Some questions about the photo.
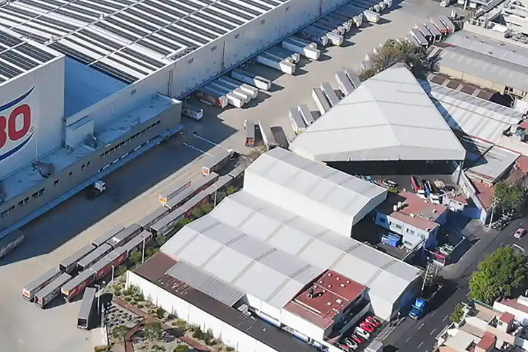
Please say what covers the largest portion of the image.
buildings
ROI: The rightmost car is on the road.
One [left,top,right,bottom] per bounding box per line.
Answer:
[511,226,528,239]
